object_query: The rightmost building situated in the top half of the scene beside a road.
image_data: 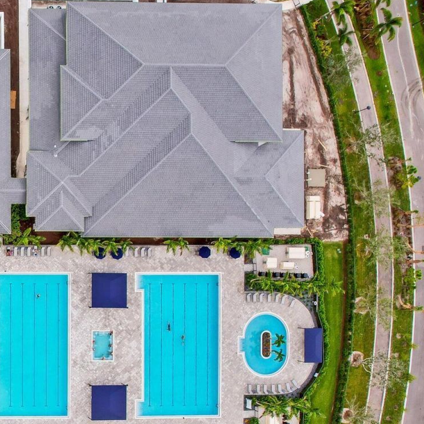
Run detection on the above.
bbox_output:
[27,1,304,236]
